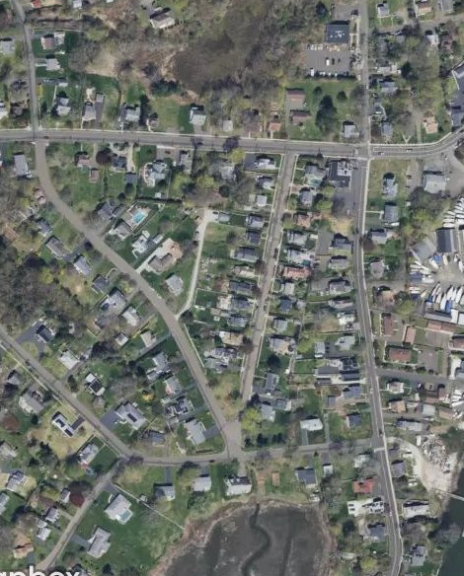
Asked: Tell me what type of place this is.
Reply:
residential area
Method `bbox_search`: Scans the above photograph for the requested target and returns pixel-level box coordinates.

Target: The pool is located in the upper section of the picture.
[130,209,147,226]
